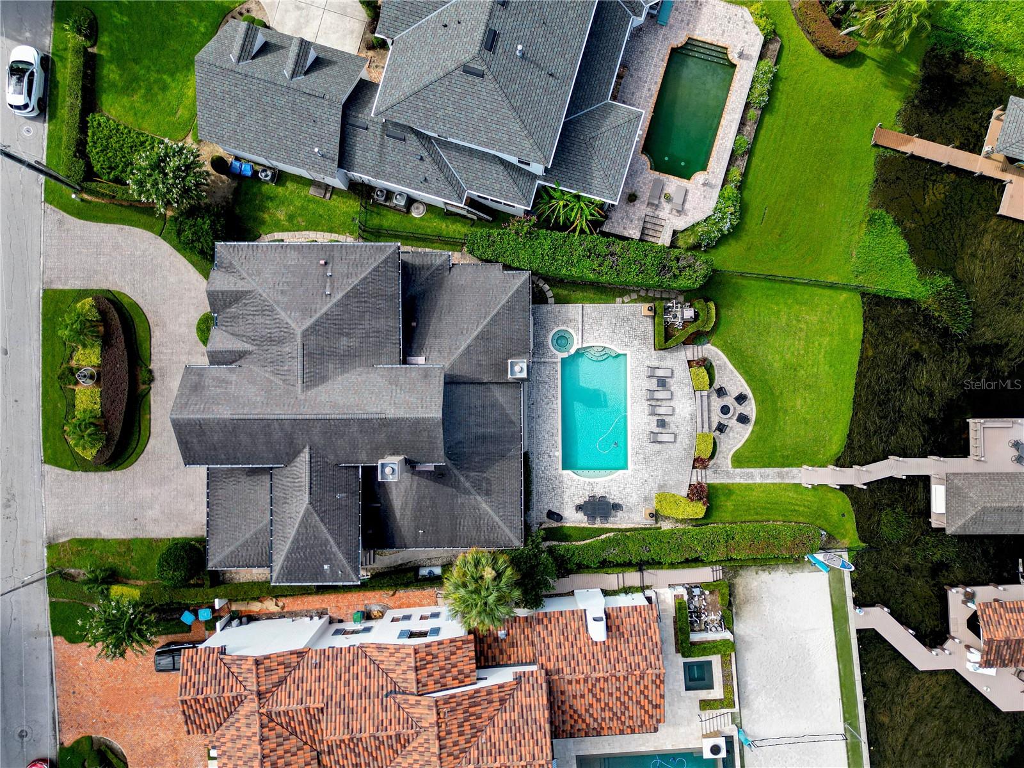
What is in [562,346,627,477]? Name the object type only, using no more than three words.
swimming pool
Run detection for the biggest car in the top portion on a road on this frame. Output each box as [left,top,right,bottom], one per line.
[6,48,48,117]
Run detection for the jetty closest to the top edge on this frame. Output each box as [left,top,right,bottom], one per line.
[871,107,1024,222]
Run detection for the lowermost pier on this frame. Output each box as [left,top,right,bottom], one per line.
[855,582,1024,712]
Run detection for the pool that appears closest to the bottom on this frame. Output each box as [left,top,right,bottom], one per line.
[577,747,717,768]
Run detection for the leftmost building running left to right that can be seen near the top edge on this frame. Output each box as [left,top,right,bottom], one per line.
[194,0,648,223]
